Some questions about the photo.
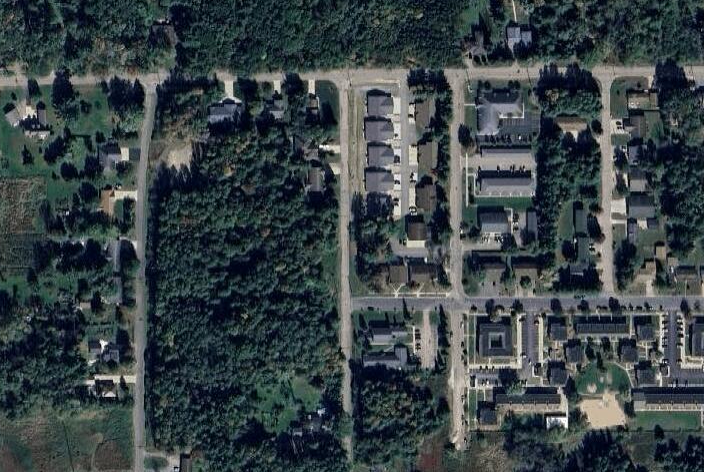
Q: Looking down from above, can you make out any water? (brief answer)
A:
No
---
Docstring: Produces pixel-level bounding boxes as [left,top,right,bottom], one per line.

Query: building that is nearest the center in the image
[368,197,393,218]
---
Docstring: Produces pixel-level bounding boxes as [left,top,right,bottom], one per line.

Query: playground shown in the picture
[580,392,625,427]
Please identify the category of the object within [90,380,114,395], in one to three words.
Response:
house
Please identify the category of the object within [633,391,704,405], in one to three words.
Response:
building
